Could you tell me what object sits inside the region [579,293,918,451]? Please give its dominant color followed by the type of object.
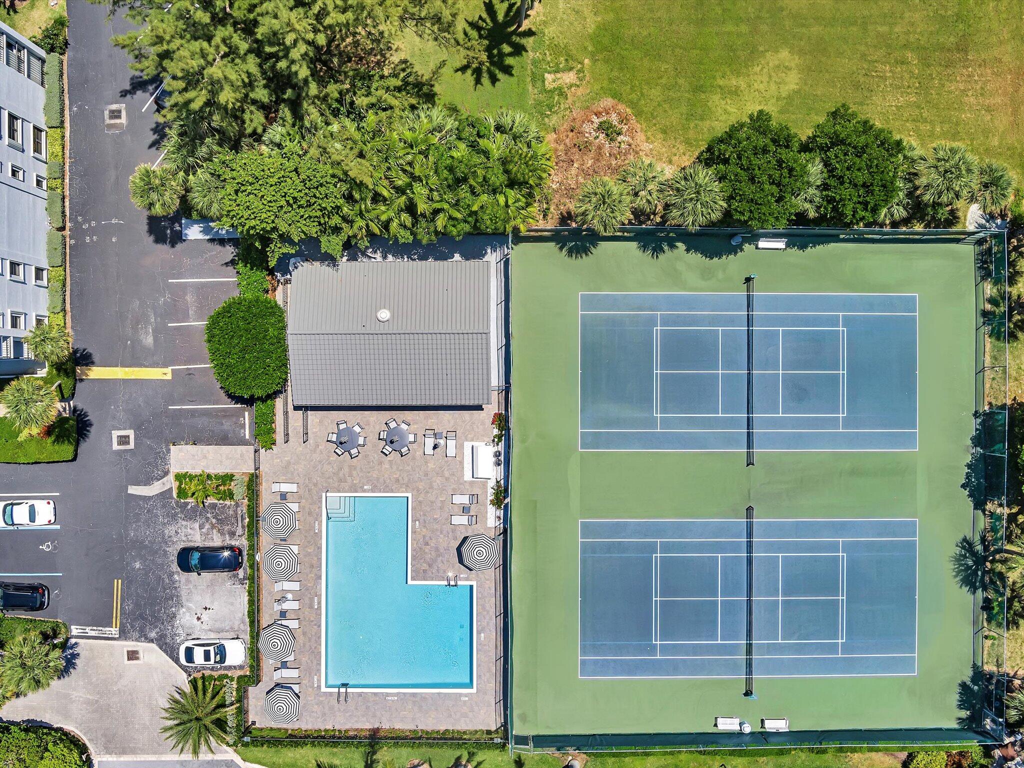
blue tennis court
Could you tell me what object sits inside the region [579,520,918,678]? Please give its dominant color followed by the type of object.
blue tennis court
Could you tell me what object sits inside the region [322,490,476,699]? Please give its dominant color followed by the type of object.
blue swimming pool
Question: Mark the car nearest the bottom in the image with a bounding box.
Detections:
[179,636,249,669]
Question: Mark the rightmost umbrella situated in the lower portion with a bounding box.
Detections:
[461,532,499,570]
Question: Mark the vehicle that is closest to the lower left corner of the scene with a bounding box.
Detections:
[0,581,53,612]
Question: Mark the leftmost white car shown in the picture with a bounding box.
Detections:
[0,498,58,529]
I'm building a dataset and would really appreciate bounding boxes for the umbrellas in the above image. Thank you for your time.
[259,501,296,538]
[265,682,304,721]
[264,545,301,581]
[258,623,296,661]
[461,532,499,570]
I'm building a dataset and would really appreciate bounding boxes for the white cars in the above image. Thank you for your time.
[0,498,58,529]
[179,636,249,669]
